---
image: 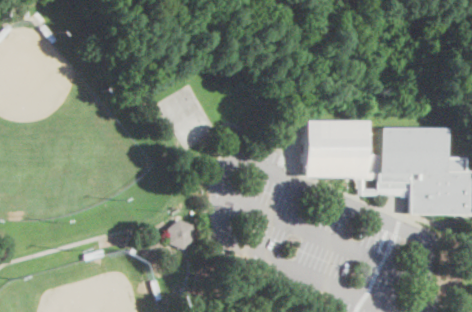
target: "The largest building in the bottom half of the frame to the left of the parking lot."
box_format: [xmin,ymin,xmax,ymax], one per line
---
[168,222,194,248]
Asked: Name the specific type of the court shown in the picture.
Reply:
basketball court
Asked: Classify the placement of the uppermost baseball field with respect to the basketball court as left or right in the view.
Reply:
on its left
